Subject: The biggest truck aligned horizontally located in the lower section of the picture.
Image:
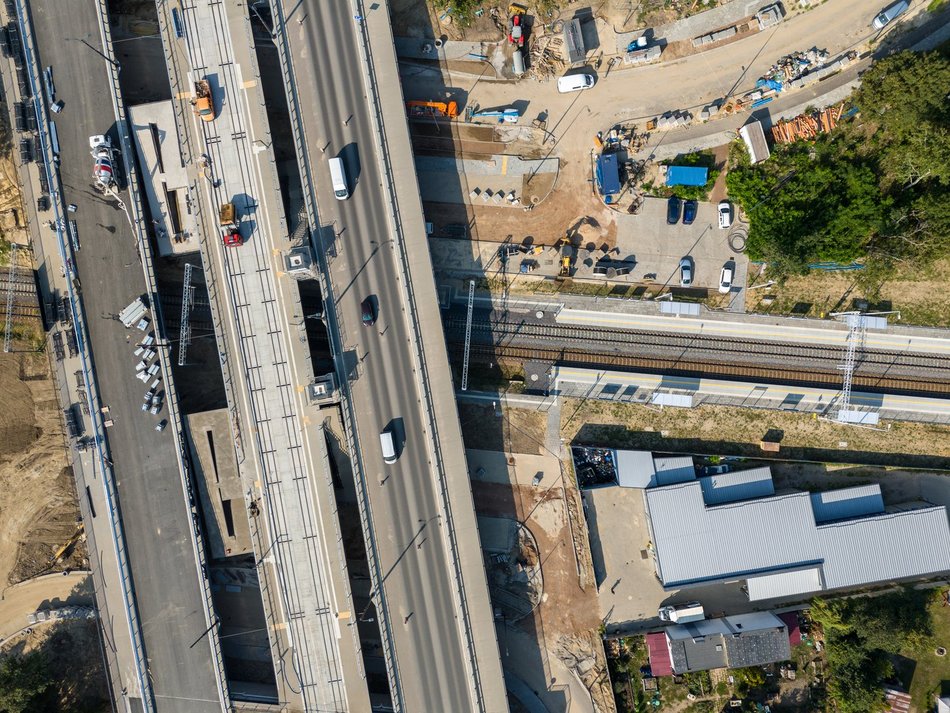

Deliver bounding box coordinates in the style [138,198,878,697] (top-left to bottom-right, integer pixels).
[654,595,704,622]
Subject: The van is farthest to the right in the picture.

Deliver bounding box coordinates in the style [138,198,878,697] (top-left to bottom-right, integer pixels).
[867,0,910,34]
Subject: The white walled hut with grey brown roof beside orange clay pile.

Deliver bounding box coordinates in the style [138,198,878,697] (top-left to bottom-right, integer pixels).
[738,121,770,166]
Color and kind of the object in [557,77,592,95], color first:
white vehicle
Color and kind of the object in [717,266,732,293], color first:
white car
